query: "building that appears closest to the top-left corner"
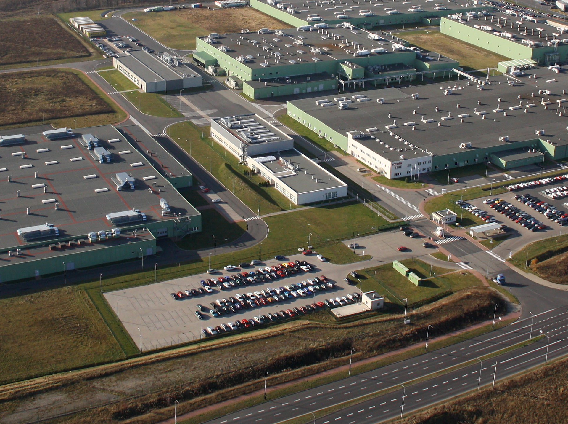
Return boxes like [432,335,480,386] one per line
[111,49,202,93]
